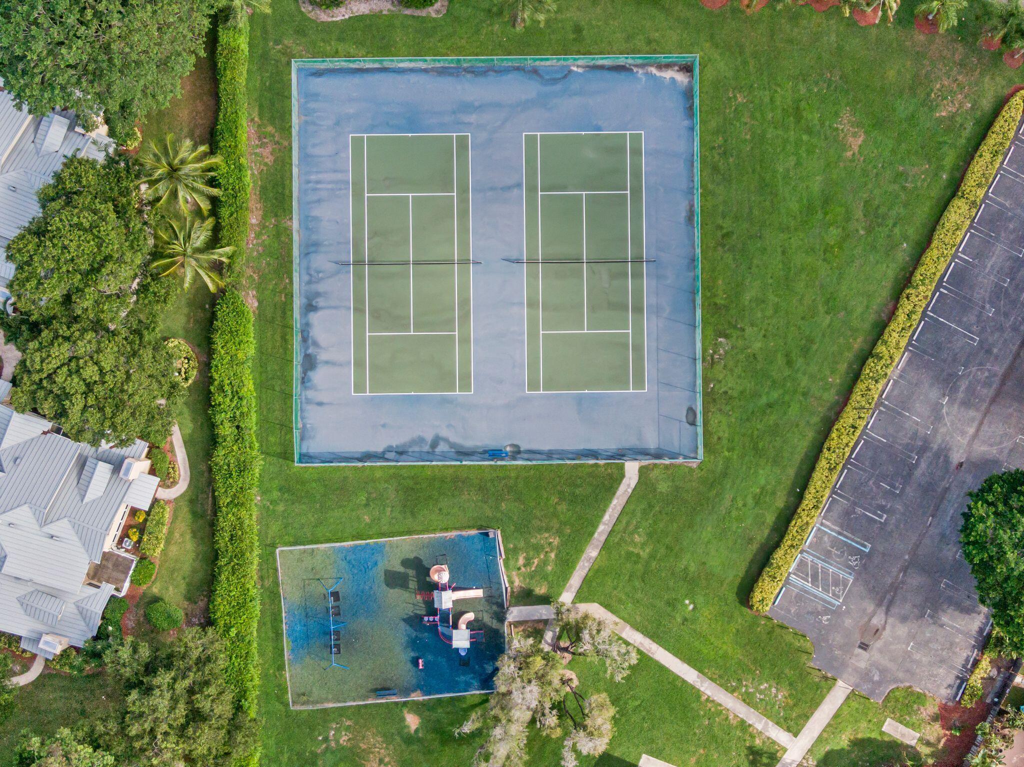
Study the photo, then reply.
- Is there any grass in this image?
Yes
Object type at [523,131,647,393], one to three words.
tennis court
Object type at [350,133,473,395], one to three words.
tennis court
